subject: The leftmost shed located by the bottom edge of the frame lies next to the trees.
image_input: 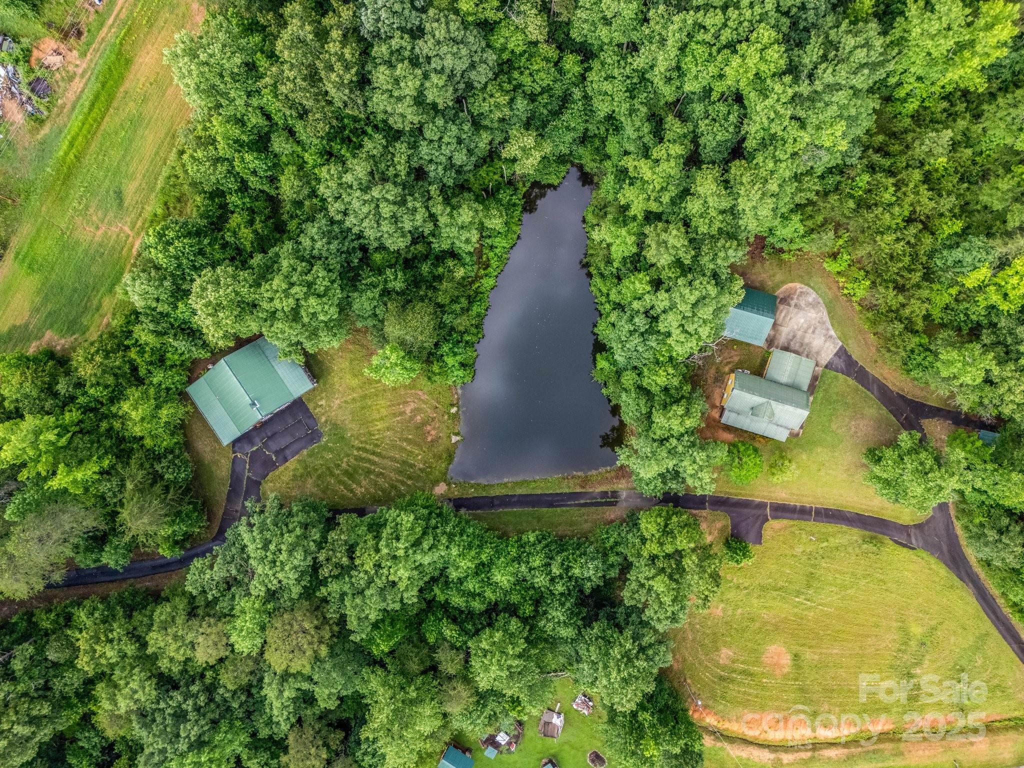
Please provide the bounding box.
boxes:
[436,732,477,768]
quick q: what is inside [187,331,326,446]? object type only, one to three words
barn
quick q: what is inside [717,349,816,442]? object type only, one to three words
house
